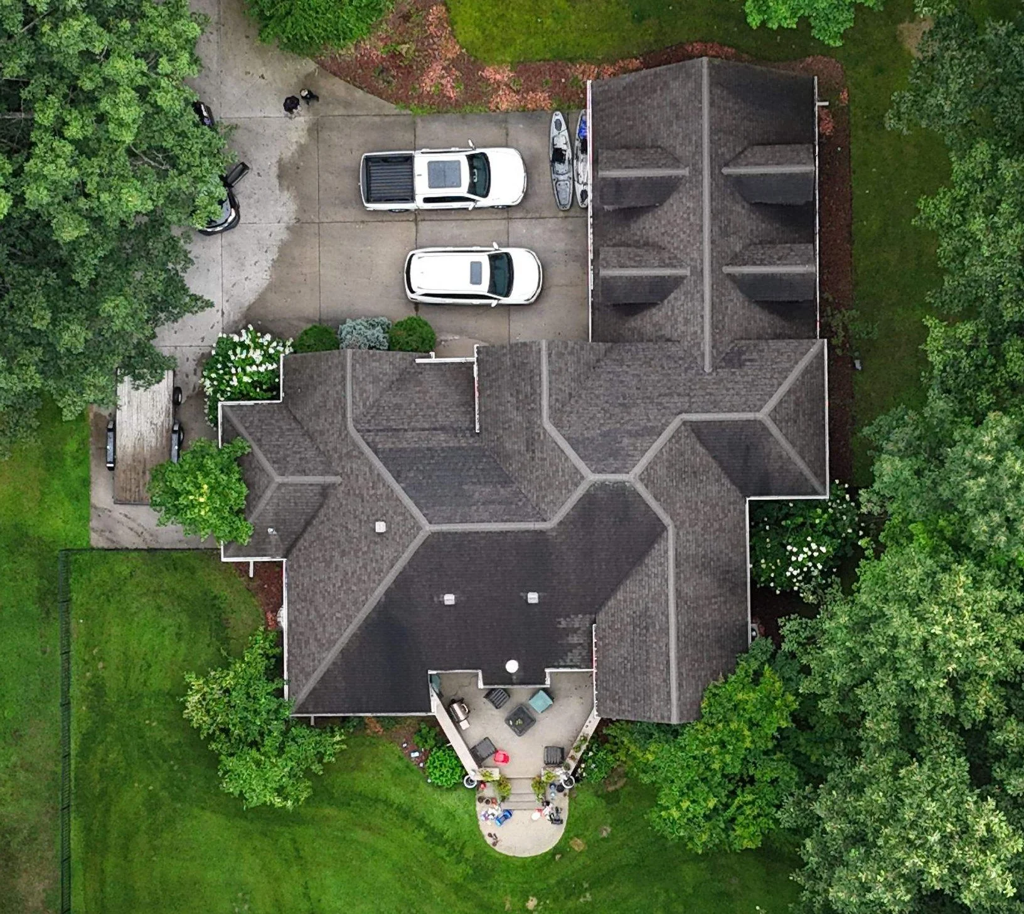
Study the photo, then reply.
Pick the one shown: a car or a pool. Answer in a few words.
car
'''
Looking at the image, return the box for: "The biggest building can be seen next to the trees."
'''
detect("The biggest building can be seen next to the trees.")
[217,57,832,725]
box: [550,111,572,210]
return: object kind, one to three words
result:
boat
